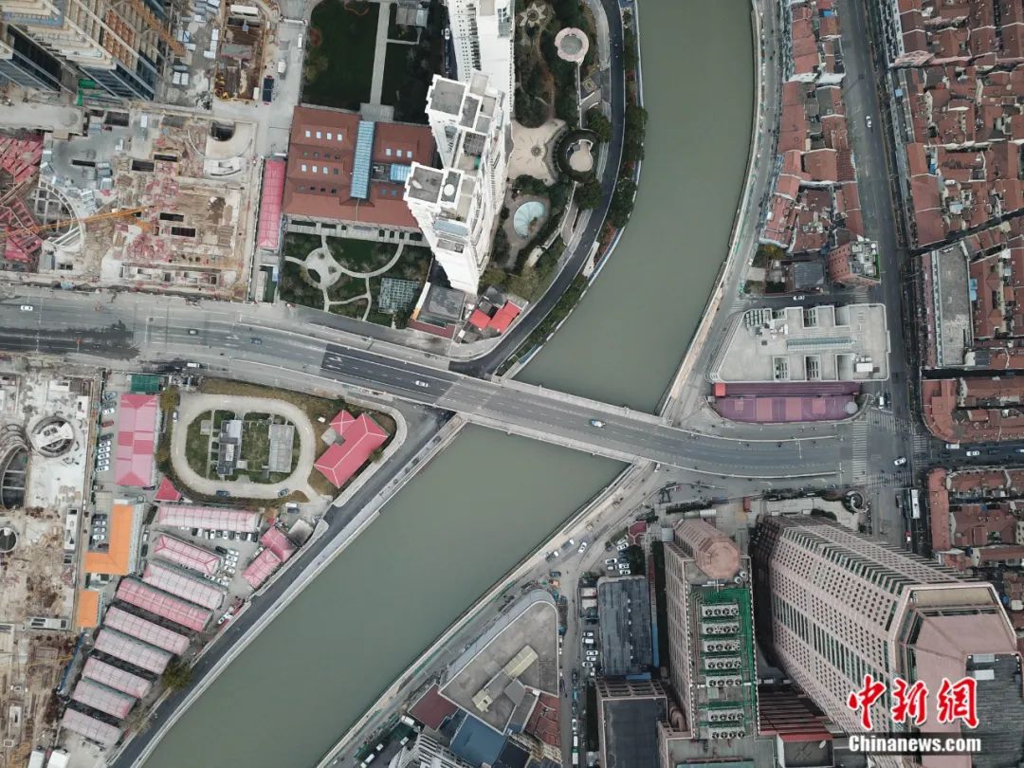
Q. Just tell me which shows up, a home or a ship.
home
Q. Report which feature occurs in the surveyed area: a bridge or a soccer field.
bridge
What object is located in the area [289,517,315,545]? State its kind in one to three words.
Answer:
shed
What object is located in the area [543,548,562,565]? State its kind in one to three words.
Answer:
vehicle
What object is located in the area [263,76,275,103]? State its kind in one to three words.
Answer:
vehicle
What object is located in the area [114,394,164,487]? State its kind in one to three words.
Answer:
building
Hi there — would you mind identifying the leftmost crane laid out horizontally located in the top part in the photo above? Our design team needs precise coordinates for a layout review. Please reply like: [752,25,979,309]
[0,201,155,240]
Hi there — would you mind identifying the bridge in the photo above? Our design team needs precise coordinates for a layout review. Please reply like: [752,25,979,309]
[451,369,678,473]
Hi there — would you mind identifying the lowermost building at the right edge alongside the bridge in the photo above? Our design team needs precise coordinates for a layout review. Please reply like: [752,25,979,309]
[749,506,1024,768]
